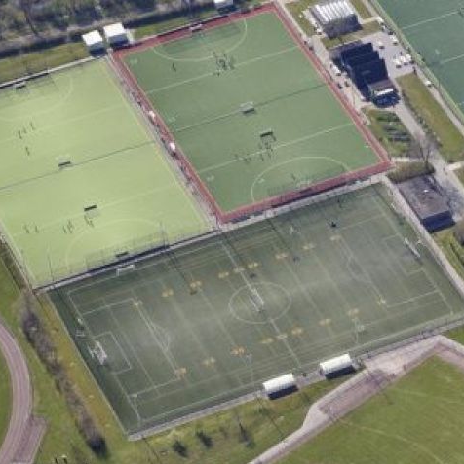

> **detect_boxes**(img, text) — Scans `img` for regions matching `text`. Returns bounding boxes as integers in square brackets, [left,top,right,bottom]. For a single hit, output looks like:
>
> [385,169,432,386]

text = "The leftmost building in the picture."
[82,31,104,52]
